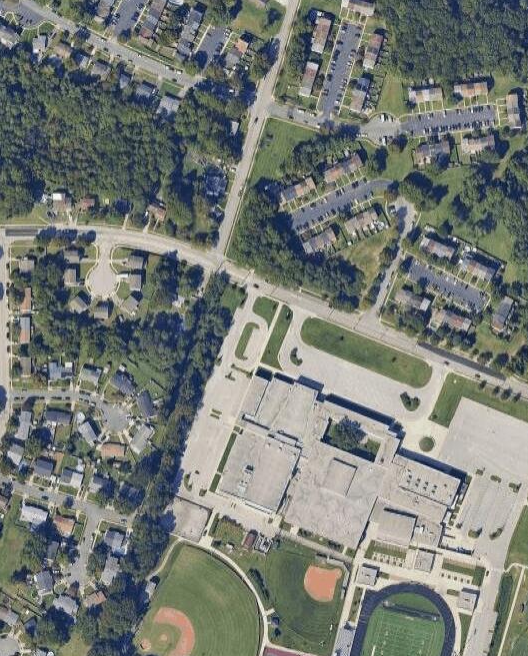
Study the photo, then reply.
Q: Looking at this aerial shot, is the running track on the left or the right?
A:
right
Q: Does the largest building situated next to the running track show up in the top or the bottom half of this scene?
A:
bottom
